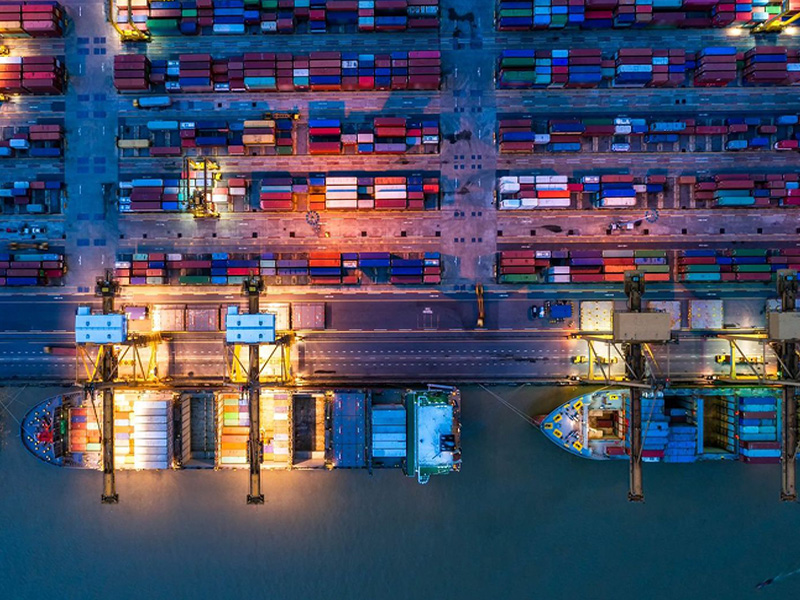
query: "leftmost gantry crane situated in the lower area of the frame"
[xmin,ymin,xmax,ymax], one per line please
[74,270,173,505]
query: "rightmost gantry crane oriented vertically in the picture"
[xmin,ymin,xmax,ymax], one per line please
[715,270,800,500]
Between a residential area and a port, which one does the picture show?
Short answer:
port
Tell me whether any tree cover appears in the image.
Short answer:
No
